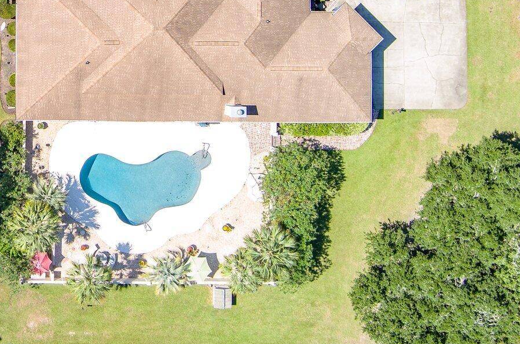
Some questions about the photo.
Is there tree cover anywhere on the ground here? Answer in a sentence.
Yes, tree cover shows up in the scene.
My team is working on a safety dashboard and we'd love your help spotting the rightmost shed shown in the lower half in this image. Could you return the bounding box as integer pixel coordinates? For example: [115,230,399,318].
[210,284,232,310]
